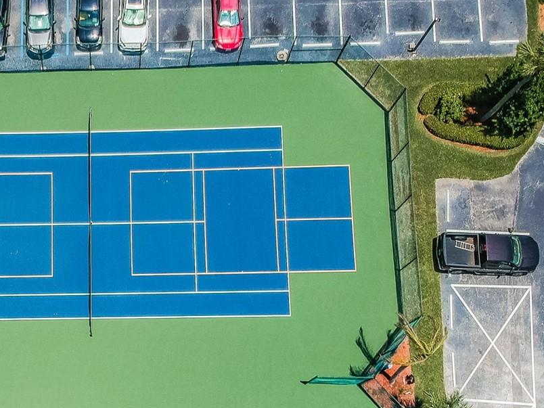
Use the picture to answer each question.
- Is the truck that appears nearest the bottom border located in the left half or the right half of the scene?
right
